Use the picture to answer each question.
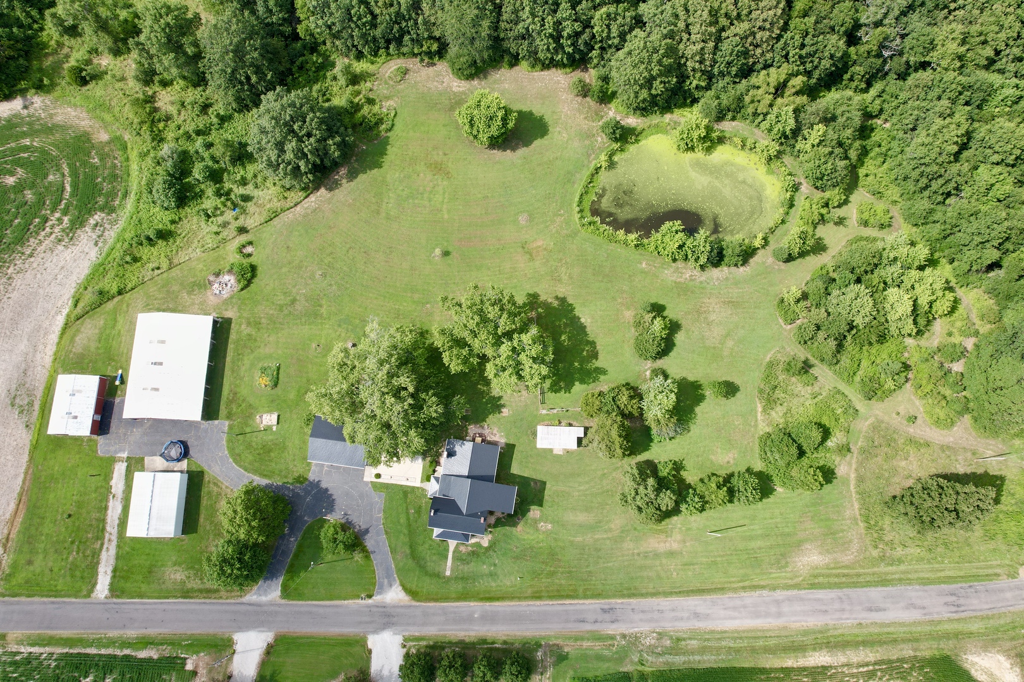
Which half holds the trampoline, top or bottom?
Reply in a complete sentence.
The bottom half of the photo is where the trampoline is.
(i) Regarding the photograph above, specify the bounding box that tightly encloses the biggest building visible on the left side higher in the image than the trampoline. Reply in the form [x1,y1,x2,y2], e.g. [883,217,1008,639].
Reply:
[123,312,222,422]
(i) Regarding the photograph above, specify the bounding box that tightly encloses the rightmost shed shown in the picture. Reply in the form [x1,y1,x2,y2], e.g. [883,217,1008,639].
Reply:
[537,426,584,449]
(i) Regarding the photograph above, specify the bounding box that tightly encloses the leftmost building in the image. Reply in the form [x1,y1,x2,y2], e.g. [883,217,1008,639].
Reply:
[47,374,107,436]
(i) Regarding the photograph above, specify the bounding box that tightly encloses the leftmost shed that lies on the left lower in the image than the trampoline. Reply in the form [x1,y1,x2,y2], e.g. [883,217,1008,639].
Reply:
[127,472,189,537]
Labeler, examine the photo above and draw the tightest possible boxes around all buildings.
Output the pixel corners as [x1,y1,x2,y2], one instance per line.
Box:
[123,312,222,422]
[308,415,375,469]
[537,426,584,449]
[428,435,517,543]
[127,472,189,537]
[47,374,107,436]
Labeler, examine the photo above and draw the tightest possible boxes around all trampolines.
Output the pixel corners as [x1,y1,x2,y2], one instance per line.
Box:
[157,440,184,462]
